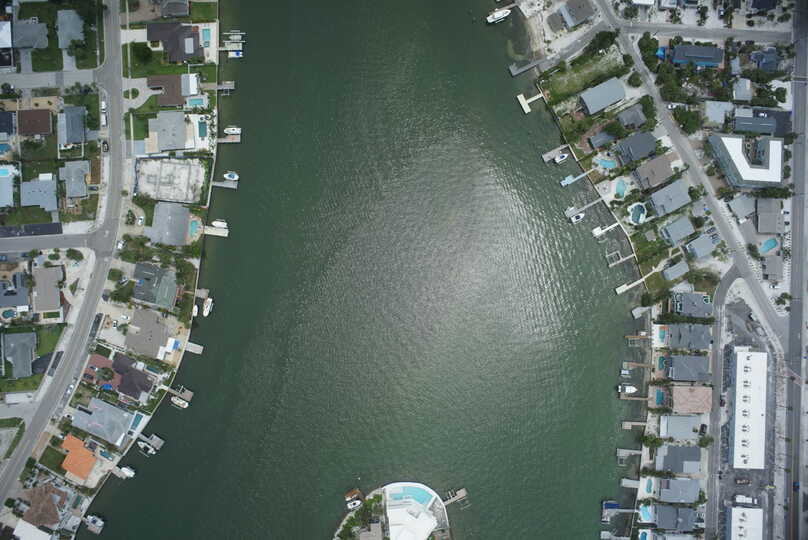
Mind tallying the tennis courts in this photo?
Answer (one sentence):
There are no tennis courts in the image.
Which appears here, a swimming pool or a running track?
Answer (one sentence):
This aerial view contains a swimming pool.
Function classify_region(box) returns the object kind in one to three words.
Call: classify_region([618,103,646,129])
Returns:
house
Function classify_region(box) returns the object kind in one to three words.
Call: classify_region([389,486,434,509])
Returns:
swimming pool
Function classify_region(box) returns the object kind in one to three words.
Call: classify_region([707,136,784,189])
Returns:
building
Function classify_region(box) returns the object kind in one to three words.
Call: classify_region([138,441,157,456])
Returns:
boat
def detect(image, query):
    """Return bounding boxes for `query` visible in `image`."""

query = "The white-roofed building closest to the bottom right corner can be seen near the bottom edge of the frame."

[721,503,764,540]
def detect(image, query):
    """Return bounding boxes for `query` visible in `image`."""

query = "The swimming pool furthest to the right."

[760,237,779,253]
